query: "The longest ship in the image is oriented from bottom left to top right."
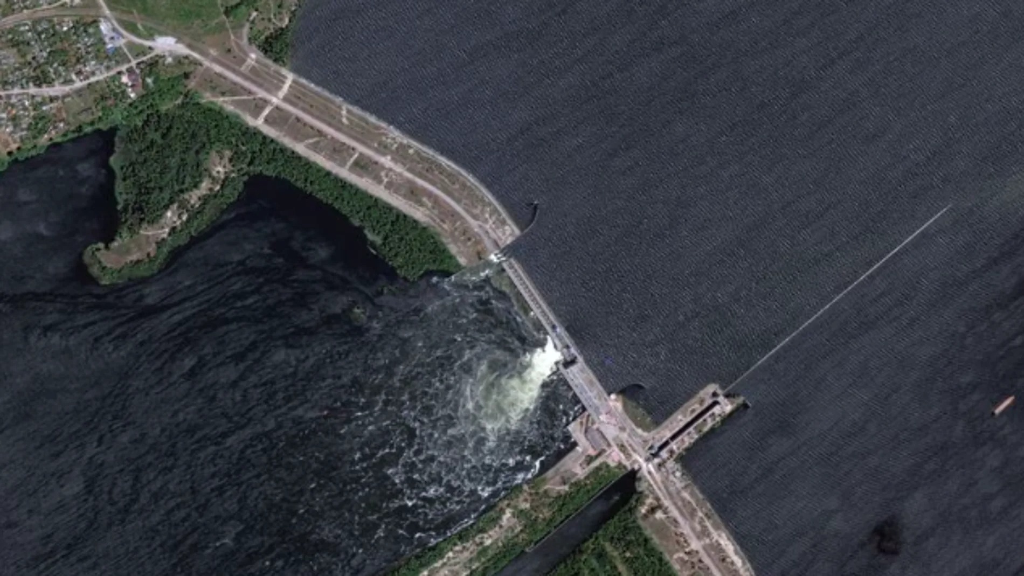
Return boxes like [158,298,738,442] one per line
[994,397,1014,416]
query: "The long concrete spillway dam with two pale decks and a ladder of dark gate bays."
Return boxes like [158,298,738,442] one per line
[502,256,581,359]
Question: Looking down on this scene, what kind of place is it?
port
